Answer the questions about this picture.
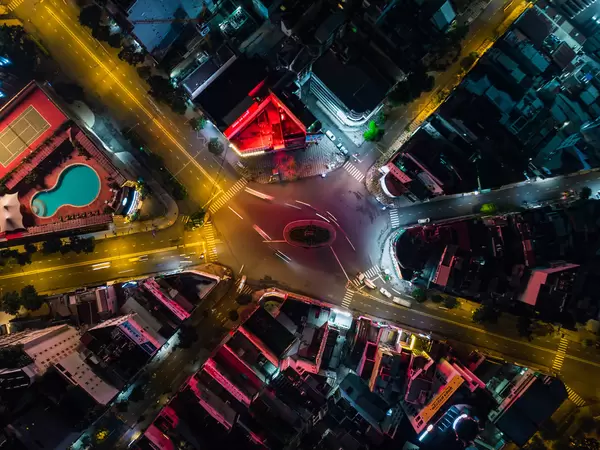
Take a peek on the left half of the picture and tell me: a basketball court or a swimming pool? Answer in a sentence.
It is a swimming pool that can be seen on the left half of the picture.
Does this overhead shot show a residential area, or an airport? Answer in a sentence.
It's a residential area.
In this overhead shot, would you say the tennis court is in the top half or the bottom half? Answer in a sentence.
Seen from above, the tennis court lies in the top half of the view.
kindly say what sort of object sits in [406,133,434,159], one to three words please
house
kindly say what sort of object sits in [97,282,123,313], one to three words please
building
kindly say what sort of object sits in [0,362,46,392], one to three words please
building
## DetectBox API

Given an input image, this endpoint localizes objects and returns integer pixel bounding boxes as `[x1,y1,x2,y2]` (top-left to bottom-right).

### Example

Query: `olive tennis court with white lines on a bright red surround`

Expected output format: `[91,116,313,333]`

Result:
[0,80,72,187]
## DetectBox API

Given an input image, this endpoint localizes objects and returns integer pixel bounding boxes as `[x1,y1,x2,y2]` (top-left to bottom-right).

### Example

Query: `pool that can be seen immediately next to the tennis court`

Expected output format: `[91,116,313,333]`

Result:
[29,162,101,220]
